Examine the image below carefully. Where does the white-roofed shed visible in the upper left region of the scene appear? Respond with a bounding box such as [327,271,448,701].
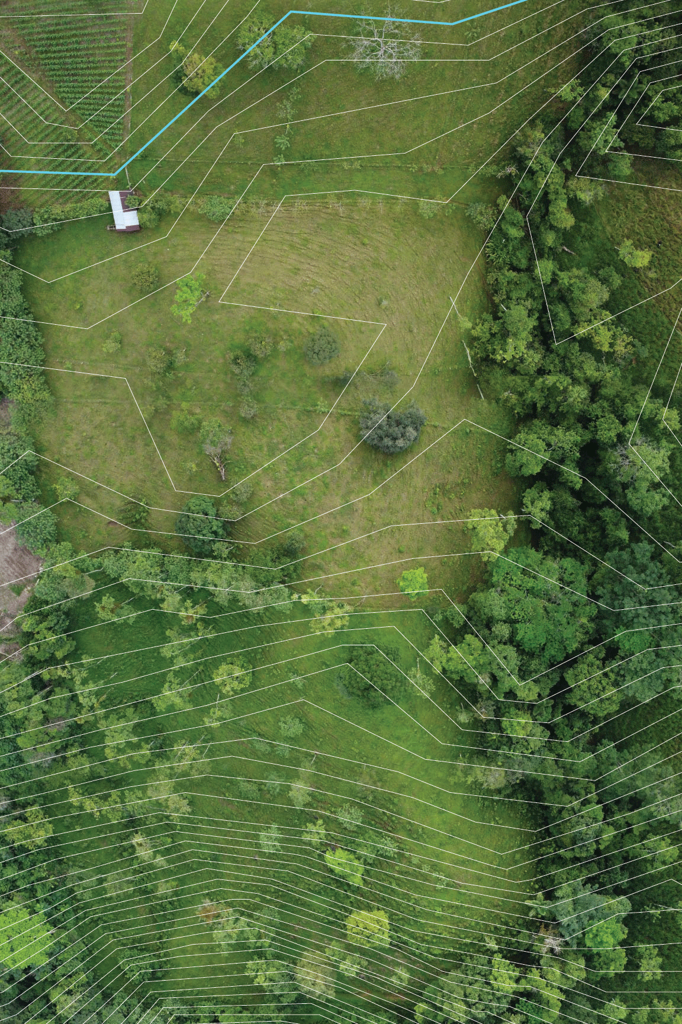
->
[108,189,140,232]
